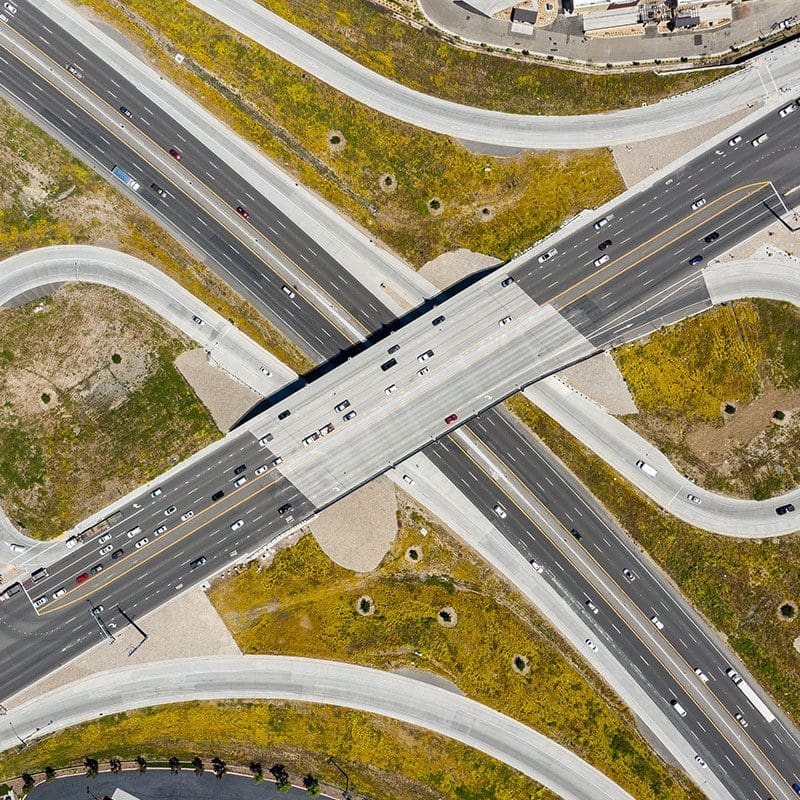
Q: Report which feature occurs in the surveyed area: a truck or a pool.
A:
truck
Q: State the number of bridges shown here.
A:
1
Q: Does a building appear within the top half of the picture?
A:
Yes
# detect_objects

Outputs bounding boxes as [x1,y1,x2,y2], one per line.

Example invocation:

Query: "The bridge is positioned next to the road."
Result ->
[240,264,607,515]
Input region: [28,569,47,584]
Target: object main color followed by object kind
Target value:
gray vehicle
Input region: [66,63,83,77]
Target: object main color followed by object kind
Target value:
gray vehicle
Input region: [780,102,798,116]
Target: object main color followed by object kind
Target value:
white vehicle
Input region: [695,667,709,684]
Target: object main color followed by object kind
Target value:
white vehicle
